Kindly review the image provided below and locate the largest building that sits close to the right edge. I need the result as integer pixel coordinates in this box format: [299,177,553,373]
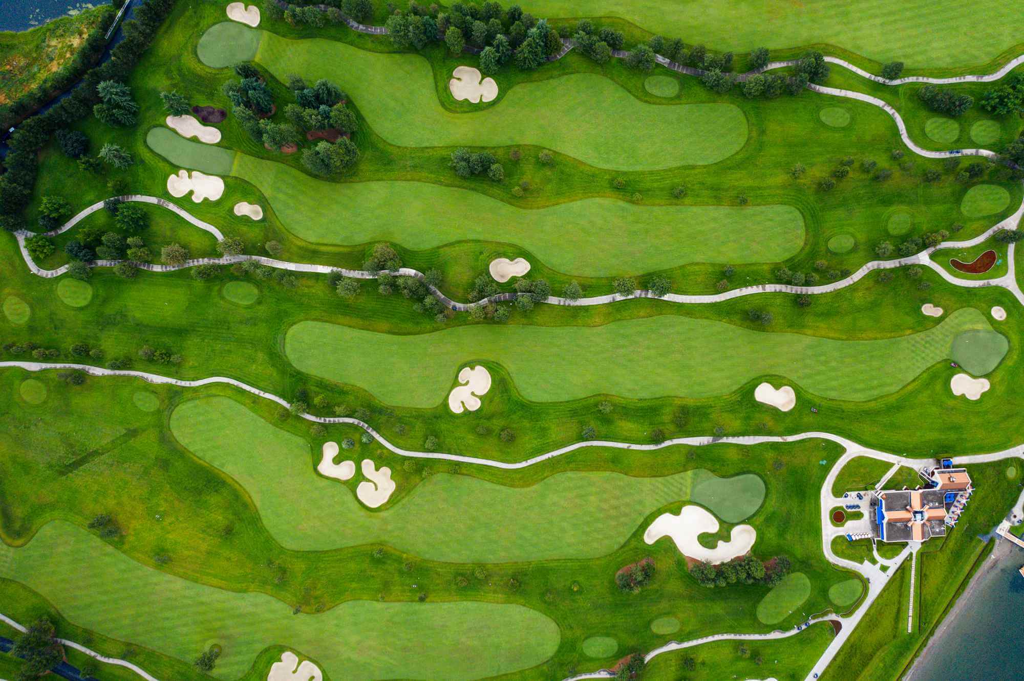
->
[871,466,973,543]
